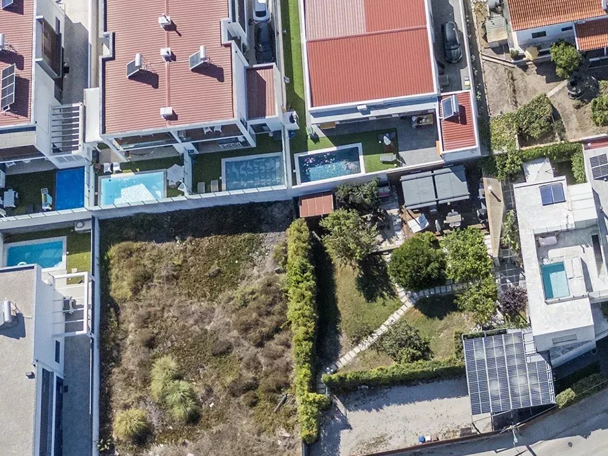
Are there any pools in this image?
Yes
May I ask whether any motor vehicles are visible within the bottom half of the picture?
No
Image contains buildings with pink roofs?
Yes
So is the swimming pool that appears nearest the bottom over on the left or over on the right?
right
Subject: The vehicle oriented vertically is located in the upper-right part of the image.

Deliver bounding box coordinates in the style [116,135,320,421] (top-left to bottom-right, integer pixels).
[442,24,462,64]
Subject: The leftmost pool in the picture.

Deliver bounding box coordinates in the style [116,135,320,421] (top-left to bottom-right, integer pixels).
[6,238,67,271]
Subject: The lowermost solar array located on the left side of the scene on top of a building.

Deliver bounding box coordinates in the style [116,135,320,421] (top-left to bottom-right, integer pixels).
[0,64,25,113]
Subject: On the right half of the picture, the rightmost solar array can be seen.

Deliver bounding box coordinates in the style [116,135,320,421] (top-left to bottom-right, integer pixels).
[590,154,608,180]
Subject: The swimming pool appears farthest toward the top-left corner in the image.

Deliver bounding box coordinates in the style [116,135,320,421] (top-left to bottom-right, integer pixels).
[54,169,86,211]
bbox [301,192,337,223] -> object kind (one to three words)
shed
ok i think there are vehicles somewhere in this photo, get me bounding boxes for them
[442,24,462,64]
[254,0,271,24]
[255,24,276,62]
